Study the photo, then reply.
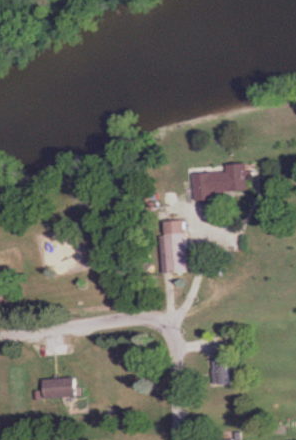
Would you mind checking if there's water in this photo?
Yes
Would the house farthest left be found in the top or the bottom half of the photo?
bottom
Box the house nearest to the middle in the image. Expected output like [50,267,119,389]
[159,220,190,272]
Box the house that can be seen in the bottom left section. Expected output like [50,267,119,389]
[34,377,79,400]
